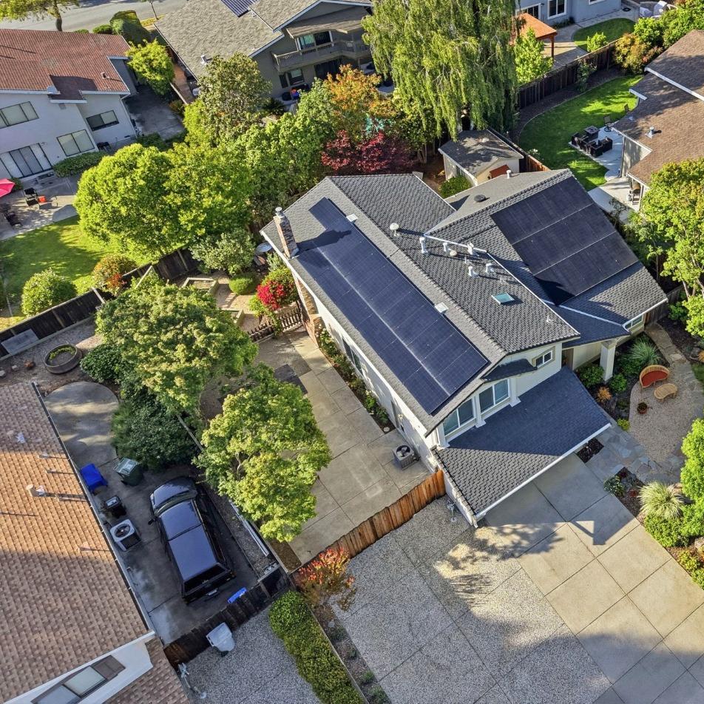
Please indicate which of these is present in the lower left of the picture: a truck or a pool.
truck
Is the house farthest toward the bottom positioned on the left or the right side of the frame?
left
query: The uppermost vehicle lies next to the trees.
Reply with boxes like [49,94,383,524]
[133,478,232,601]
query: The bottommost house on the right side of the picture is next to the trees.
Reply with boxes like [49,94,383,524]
[260,165,671,527]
